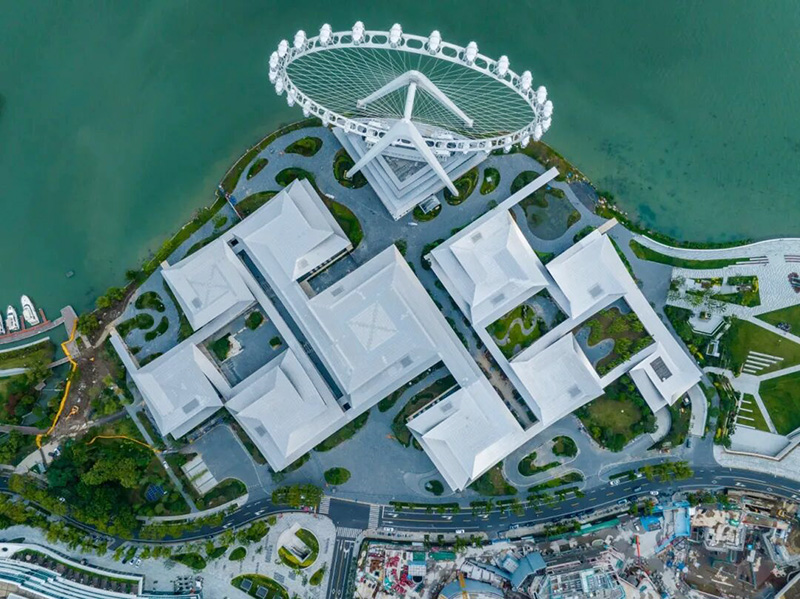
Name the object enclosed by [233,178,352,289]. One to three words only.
building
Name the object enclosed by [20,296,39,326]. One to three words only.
boat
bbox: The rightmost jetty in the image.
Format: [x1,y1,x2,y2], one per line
[60,305,82,362]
